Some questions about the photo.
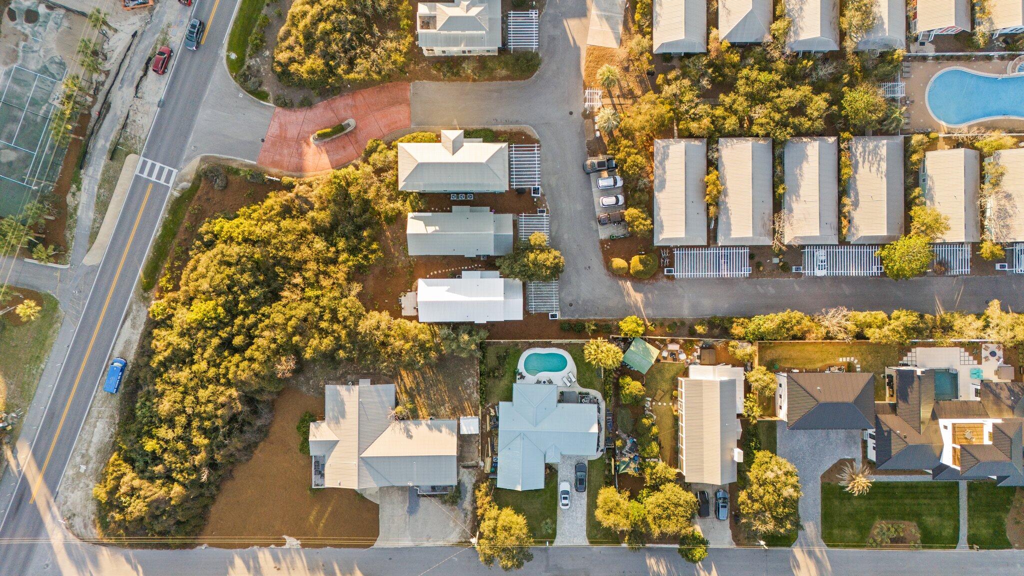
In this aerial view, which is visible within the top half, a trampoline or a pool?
pool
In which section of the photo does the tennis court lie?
top left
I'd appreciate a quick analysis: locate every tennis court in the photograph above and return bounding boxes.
[0,0,67,220]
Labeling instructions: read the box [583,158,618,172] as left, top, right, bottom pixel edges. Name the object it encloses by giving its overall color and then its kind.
gray vehicle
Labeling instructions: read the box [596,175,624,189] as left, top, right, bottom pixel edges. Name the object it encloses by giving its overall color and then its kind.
white car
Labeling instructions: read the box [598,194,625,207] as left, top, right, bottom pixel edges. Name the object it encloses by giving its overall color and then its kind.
white vehicle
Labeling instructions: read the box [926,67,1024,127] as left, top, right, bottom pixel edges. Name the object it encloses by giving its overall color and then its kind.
blue swimming pool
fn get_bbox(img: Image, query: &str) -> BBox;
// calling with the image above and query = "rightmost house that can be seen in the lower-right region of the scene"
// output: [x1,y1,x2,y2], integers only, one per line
[866,367,1024,488]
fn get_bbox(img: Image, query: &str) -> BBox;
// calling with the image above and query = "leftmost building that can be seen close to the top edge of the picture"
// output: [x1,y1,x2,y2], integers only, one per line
[418,0,502,49]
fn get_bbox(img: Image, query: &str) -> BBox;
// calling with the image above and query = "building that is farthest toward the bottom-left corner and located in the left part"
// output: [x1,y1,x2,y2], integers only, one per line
[307,379,457,495]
